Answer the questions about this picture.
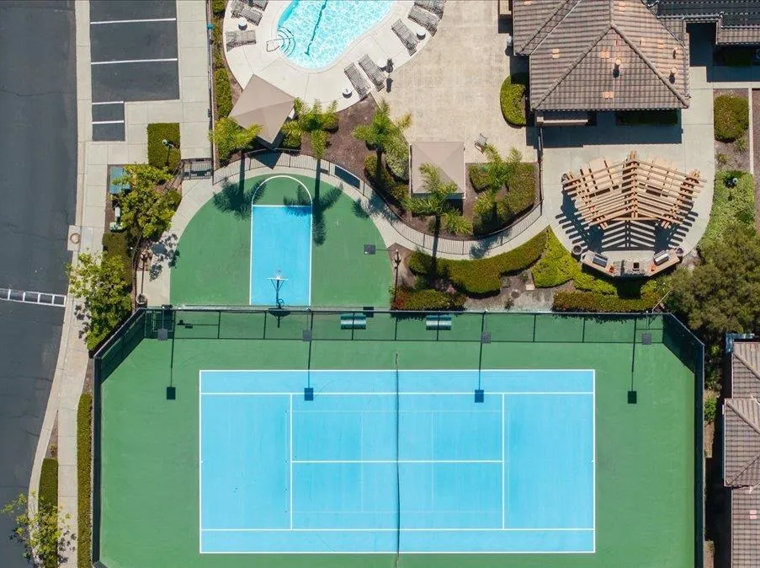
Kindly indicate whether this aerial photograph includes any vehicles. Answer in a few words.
No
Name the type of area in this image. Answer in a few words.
sports ground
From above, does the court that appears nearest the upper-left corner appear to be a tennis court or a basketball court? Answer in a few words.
basketball court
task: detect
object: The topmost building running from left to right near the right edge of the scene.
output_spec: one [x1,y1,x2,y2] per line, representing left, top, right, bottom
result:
[499,0,760,128]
